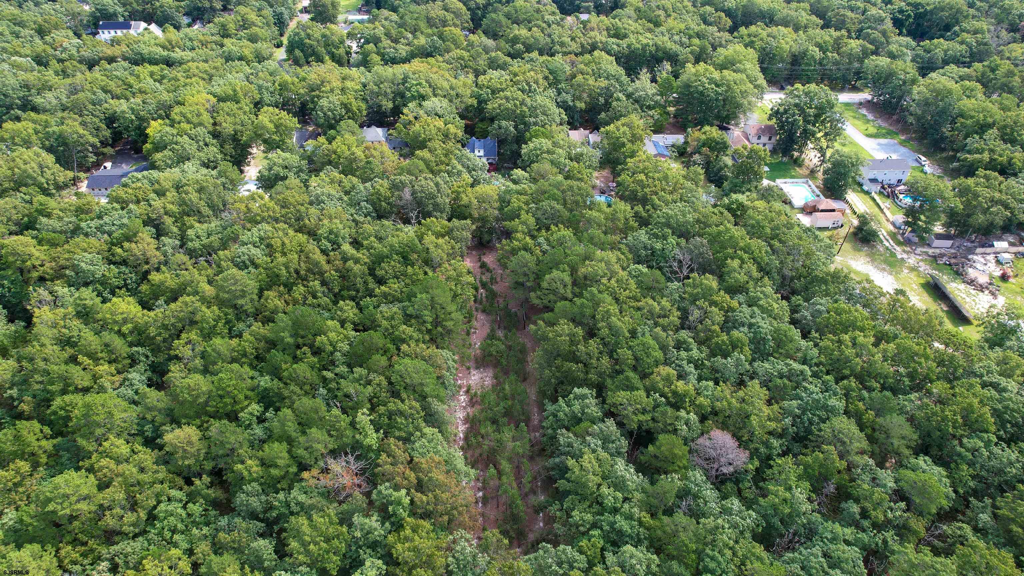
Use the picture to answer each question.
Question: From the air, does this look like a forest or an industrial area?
forest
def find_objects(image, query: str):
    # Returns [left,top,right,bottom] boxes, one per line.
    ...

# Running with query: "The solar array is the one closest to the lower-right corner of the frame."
[926,274,987,327]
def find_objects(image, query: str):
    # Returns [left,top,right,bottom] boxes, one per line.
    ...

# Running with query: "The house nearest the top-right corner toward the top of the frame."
[855,153,913,192]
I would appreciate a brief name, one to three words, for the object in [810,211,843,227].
shed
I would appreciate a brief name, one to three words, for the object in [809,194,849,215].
building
